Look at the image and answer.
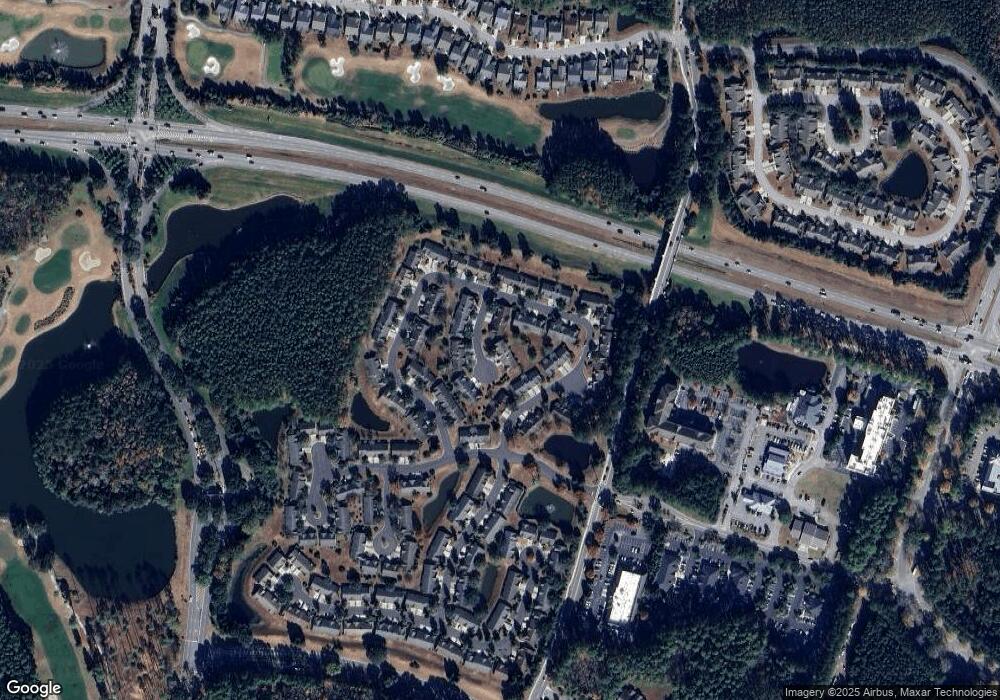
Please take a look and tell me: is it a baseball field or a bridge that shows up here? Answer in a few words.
bridge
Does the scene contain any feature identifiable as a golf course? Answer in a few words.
Yes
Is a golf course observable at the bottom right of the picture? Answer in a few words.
No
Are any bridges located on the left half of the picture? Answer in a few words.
No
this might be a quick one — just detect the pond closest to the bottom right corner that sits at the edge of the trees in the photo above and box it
[738,344,826,396]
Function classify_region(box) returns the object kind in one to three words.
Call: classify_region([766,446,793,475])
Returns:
building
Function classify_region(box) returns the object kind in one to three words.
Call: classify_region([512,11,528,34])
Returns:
house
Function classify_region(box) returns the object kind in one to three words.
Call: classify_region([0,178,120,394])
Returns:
golf course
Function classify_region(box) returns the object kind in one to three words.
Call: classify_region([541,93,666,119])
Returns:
pond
